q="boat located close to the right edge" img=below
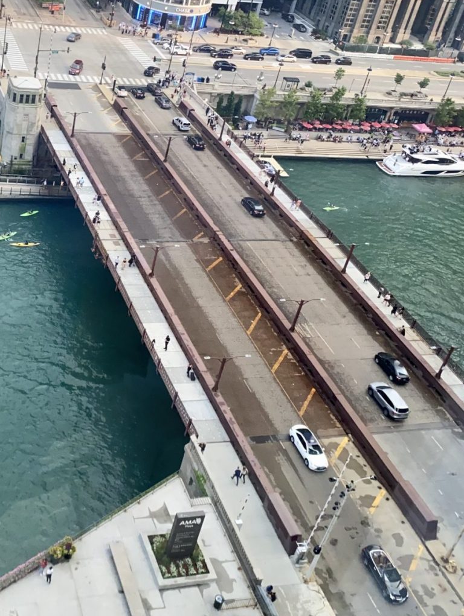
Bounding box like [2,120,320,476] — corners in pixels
[378,144,464,177]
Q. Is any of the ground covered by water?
Yes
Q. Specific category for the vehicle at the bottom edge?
car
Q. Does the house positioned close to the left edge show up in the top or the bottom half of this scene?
top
